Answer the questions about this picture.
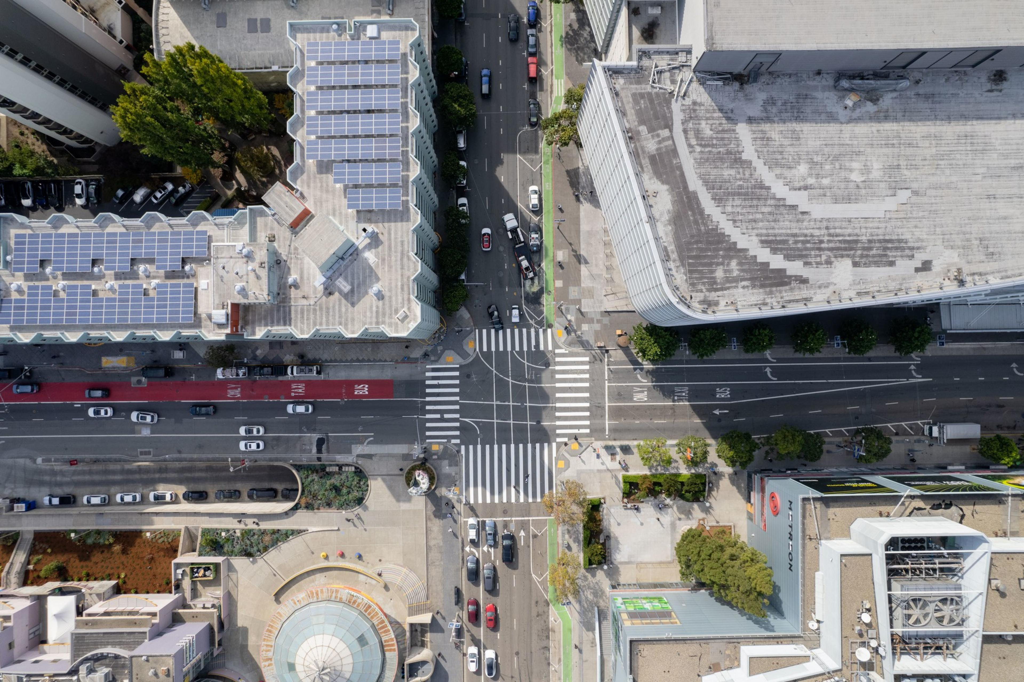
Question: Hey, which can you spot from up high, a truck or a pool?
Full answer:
The image shows a truck.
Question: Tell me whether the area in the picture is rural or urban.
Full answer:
The area is urban.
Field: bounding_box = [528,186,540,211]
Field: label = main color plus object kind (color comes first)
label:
white vehicle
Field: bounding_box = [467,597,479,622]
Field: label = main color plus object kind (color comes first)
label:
red vehicle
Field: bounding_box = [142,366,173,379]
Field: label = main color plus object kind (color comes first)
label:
black vehicle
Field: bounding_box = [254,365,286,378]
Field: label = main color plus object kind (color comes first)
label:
black vehicle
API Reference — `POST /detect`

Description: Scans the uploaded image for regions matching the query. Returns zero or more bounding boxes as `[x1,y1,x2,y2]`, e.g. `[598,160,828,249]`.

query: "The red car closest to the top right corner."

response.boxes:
[527,57,539,83]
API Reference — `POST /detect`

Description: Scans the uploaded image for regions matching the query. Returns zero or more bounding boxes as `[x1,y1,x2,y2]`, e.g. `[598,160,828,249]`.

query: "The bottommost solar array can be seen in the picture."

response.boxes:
[0,282,194,324]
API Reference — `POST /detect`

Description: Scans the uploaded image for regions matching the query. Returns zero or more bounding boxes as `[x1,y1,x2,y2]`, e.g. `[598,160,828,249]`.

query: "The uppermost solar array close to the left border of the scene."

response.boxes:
[12,231,207,273]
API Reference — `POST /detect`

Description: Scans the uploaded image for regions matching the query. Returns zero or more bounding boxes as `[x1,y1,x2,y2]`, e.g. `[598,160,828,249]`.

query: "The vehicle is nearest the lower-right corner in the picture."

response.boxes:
[922,423,980,439]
